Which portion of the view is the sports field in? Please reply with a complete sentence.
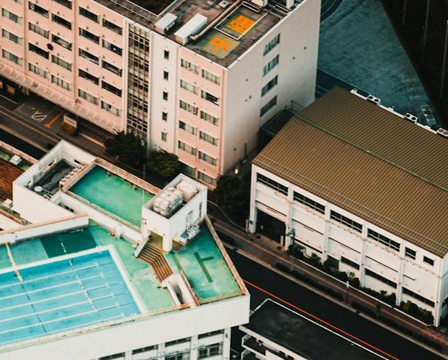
The sports field is in the top right part of the image.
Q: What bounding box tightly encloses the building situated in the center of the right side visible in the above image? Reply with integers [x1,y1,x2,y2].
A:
[248,87,448,326]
